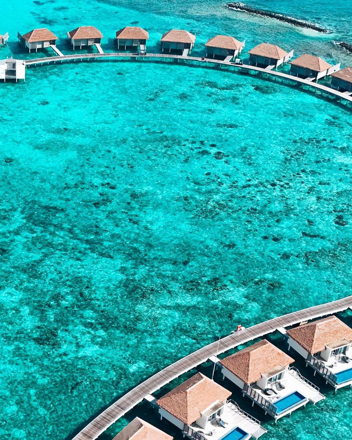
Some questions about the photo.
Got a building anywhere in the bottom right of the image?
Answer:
Yes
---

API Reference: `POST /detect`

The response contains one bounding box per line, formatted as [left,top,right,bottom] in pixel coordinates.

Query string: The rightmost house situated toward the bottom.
[285,315,352,404]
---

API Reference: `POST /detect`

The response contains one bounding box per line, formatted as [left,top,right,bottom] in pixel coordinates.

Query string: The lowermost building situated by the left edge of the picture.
[0,55,25,89]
